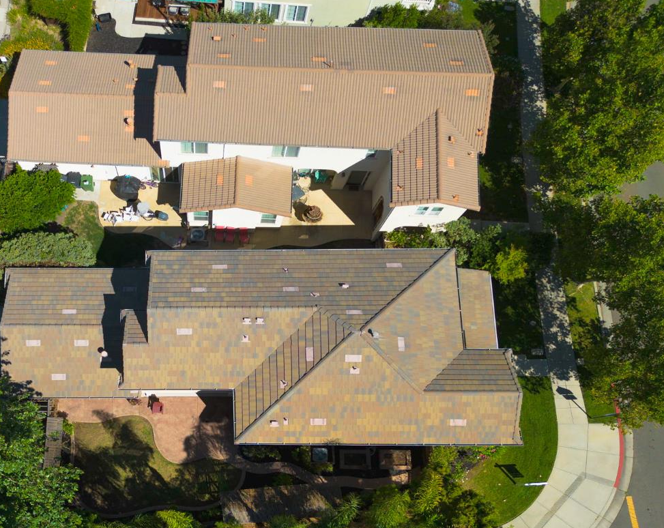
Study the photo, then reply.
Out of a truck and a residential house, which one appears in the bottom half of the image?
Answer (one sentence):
Visible in the bottom half of the image is a residential house.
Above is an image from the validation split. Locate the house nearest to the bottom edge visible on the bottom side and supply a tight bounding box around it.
[0,247,531,447]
